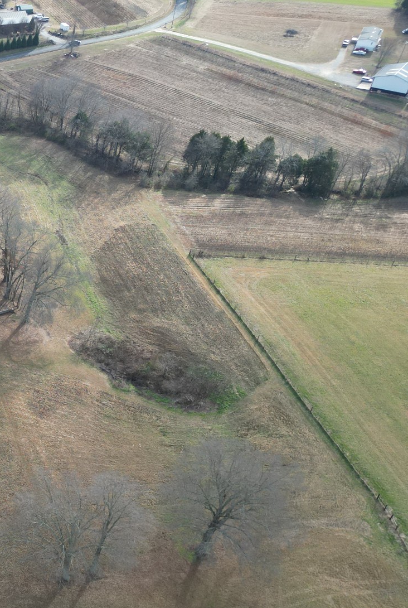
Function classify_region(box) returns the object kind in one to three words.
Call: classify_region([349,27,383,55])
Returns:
house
